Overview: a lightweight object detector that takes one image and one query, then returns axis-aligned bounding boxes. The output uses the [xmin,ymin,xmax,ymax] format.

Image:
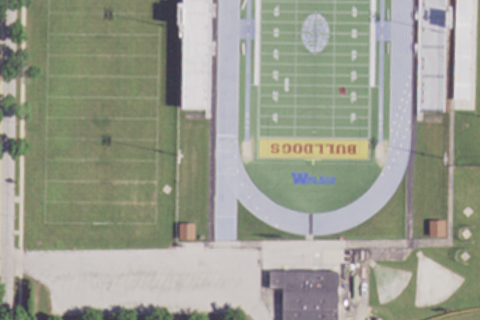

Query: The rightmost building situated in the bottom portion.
[430,220,447,238]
